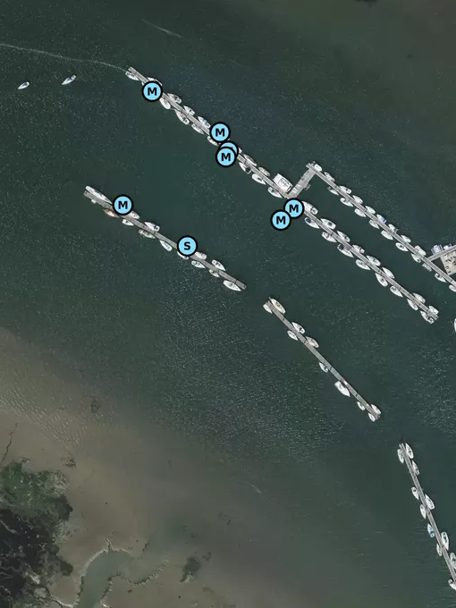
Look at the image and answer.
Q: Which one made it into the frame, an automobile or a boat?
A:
boat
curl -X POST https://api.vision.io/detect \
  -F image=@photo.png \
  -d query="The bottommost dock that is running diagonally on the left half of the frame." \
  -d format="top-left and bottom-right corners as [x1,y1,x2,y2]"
[84,191,246,289]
